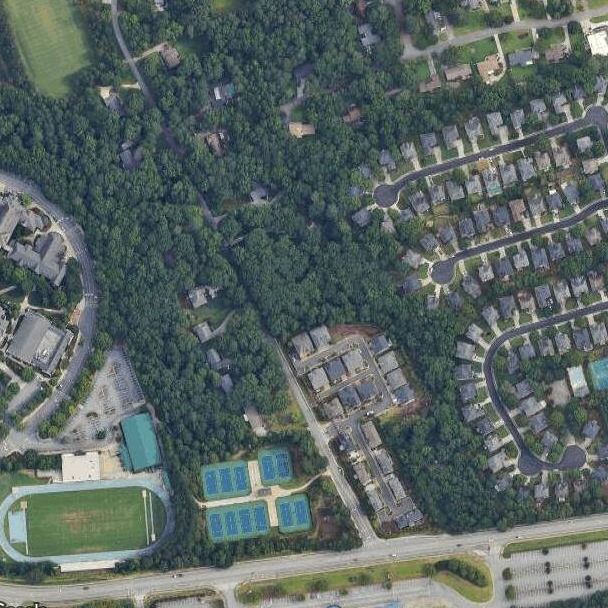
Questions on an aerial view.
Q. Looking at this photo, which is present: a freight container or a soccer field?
soccer field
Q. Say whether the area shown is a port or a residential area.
residential area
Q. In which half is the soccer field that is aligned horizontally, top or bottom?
bottom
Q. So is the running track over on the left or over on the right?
left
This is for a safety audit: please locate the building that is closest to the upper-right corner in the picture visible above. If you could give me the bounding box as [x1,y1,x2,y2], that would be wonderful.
[588,31,608,55]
